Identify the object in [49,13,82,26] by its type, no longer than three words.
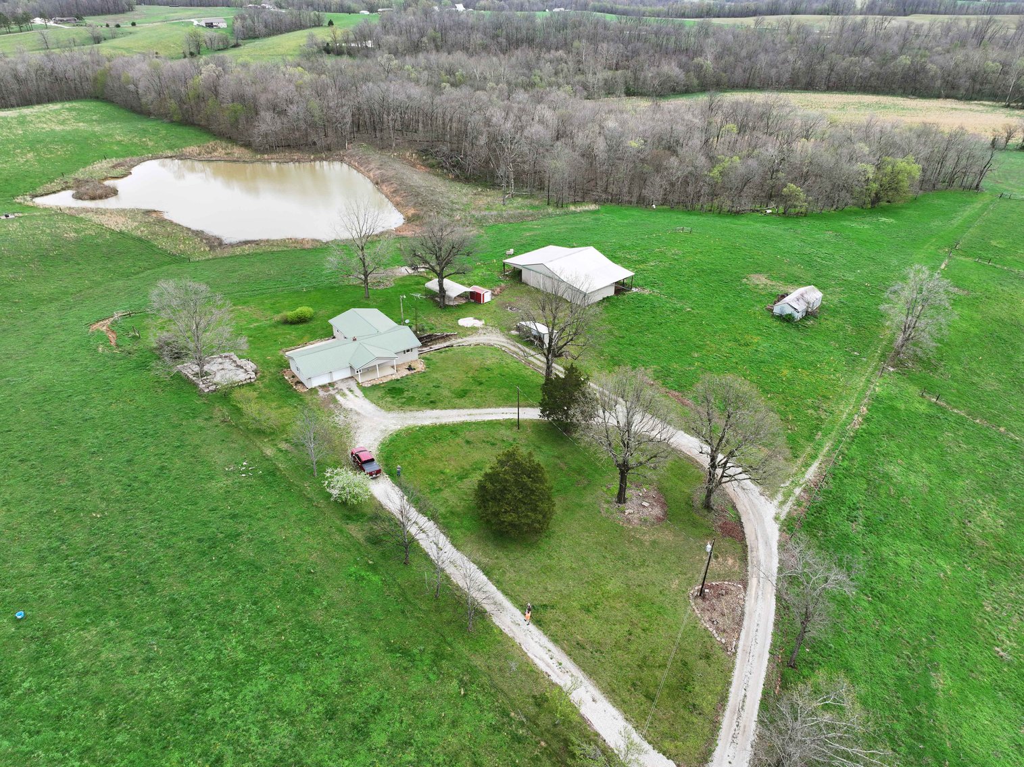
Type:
house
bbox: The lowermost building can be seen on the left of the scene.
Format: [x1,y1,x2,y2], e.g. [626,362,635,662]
[288,310,421,389]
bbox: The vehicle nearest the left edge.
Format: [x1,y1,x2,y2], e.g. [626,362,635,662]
[349,442,383,476]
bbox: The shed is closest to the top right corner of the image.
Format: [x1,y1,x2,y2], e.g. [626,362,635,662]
[775,285,822,321]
